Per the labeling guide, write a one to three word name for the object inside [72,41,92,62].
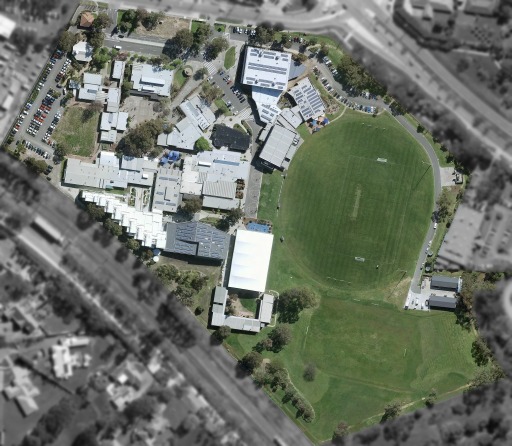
house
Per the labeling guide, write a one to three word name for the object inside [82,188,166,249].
building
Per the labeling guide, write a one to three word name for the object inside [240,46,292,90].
building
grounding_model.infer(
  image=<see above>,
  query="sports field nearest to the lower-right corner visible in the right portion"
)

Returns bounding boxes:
[310,296,478,393]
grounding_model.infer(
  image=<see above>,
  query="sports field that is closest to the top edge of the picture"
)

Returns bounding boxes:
[278,108,434,292]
